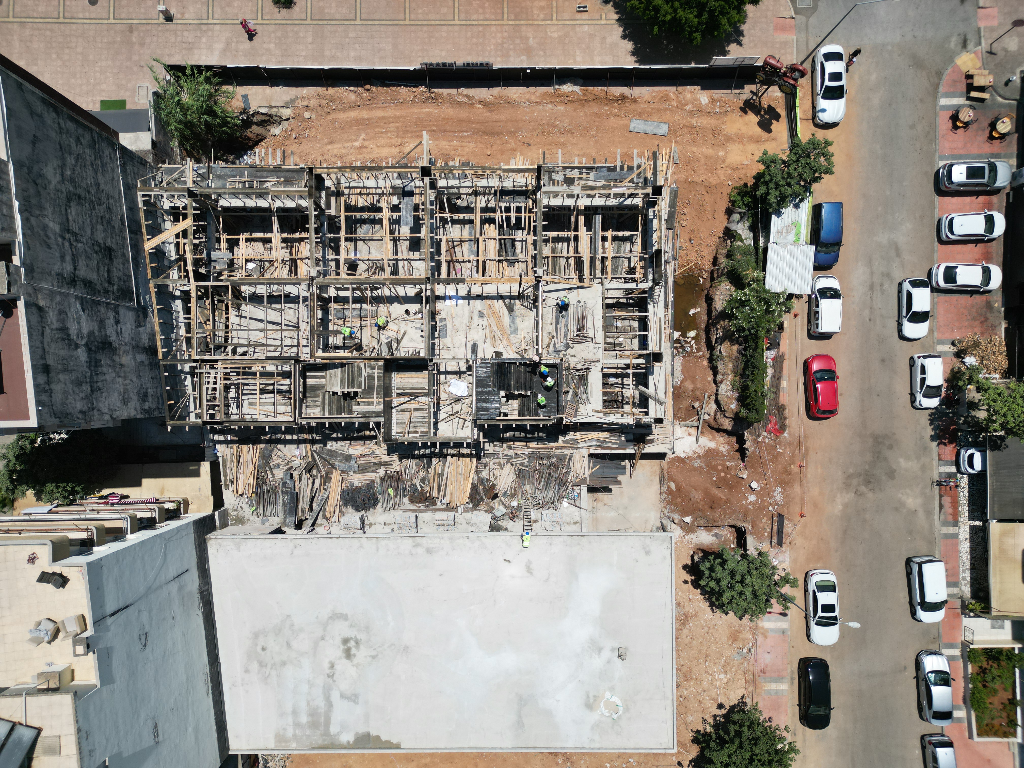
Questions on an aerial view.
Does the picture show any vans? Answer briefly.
Yes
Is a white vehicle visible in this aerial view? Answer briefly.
Yes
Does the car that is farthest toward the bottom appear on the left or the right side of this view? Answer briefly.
right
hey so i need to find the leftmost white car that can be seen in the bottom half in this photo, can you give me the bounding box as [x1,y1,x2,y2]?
[801,567,843,644]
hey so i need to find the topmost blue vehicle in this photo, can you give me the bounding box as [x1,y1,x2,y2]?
[811,200,848,270]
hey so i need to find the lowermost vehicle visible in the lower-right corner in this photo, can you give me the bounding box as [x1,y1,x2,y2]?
[918,728,958,768]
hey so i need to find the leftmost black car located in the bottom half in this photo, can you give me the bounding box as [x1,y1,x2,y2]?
[795,653,836,728]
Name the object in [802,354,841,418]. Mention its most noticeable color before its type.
red car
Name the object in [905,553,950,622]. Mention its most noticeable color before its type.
white vehicle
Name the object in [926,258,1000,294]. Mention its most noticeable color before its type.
white car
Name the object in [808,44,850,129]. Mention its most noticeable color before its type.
white car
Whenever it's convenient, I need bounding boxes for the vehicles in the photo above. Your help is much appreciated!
[926,258,1000,294]
[808,44,850,129]
[795,653,836,728]
[941,381,961,410]
[801,567,843,644]
[912,646,956,726]
[918,728,958,768]
[894,278,935,341]
[934,156,1010,195]
[811,200,848,270]
[905,553,950,622]
[934,207,1005,244]
[807,275,848,339]
[802,354,841,418]
[753,56,809,102]
[905,353,946,410]
[945,445,986,476]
